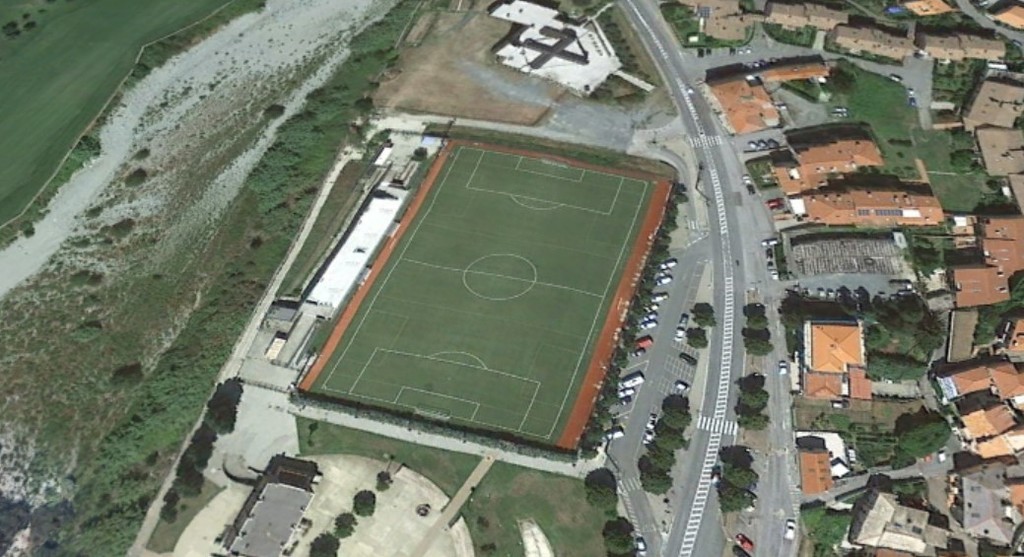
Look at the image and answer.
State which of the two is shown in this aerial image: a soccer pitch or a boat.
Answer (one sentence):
The image shows a soccer pitch.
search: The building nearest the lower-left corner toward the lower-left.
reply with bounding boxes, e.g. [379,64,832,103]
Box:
[228,459,316,557]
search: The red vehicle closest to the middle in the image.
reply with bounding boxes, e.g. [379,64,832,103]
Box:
[636,335,654,347]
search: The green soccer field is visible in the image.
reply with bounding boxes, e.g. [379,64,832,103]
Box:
[298,138,674,452]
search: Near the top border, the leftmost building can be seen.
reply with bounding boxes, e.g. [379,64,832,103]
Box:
[486,0,620,99]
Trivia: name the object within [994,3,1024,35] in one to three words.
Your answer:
house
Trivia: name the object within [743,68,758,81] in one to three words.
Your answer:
vehicle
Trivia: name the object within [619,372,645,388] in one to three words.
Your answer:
vehicle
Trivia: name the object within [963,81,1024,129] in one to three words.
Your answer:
building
